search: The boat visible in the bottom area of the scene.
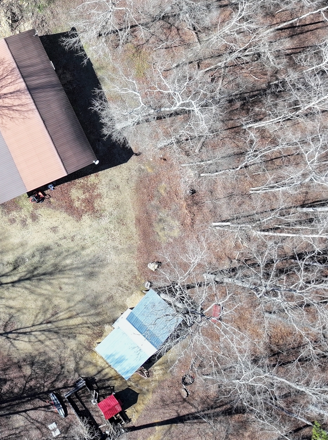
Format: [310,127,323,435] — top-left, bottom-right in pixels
[51,394,66,420]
